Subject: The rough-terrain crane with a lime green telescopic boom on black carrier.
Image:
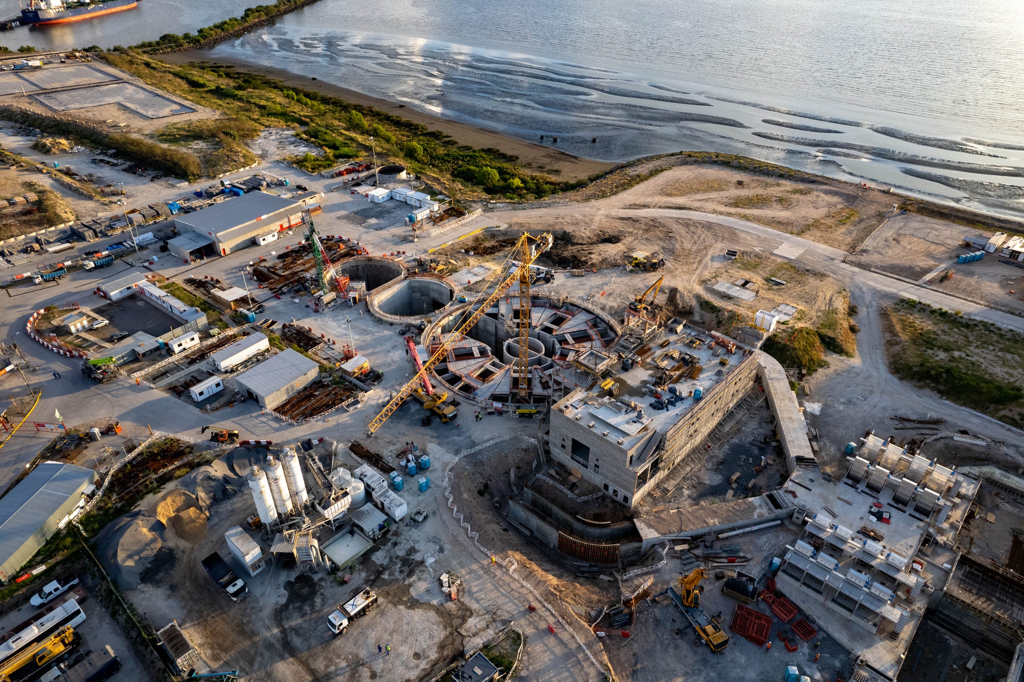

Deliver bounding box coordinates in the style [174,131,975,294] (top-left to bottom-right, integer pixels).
[72,361,117,383]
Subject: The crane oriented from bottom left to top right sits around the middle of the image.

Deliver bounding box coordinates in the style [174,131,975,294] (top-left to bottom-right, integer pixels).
[363,234,563,443]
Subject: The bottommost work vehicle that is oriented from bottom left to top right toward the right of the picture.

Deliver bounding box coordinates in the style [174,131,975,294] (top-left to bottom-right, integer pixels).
[626,275,664,317]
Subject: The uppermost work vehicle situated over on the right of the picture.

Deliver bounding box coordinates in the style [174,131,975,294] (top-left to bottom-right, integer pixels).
[637,258,667,273]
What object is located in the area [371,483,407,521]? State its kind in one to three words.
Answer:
shipping container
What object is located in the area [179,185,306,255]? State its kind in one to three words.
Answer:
building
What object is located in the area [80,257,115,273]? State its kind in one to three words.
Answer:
vehicle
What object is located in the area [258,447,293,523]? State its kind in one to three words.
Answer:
silo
